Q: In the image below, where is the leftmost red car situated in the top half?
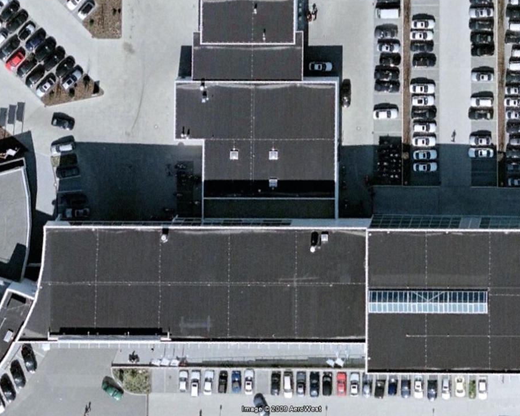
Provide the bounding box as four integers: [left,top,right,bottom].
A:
[5,51,25,70]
